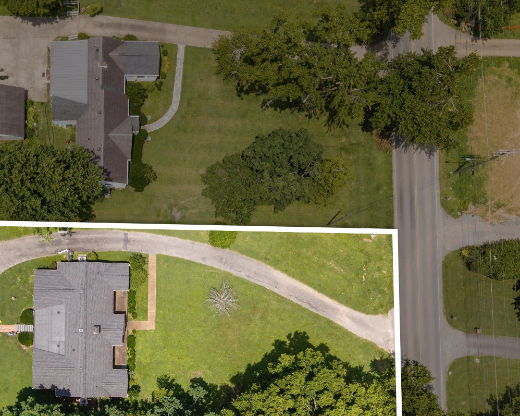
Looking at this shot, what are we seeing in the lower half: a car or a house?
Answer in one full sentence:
There is a house in the lower half.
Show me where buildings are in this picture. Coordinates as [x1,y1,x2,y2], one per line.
[32,262,133,398]
[50,31,160,187]
[0,83,25,142]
